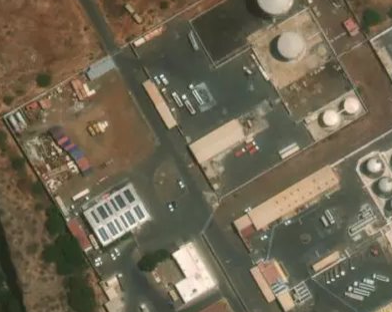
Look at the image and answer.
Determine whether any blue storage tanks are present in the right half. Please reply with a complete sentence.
No, no blue storage tank appears in the right half.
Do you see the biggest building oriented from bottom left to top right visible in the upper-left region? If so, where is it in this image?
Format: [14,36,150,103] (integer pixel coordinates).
[86,56,117,82]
